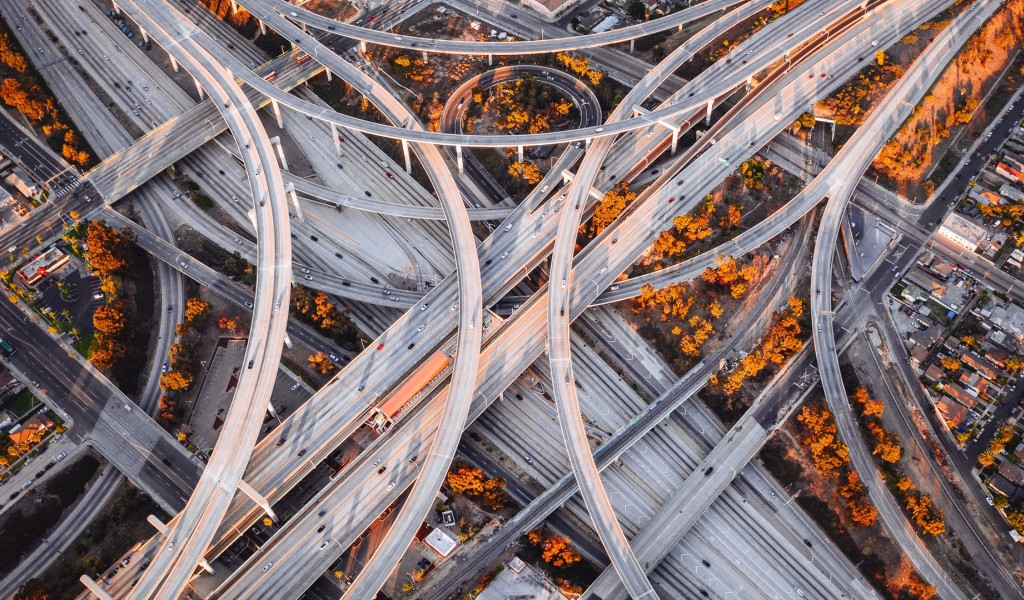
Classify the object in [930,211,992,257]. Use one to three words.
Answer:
building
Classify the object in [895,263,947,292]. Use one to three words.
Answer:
house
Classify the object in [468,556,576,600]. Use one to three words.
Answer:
building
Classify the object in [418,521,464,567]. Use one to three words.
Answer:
house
